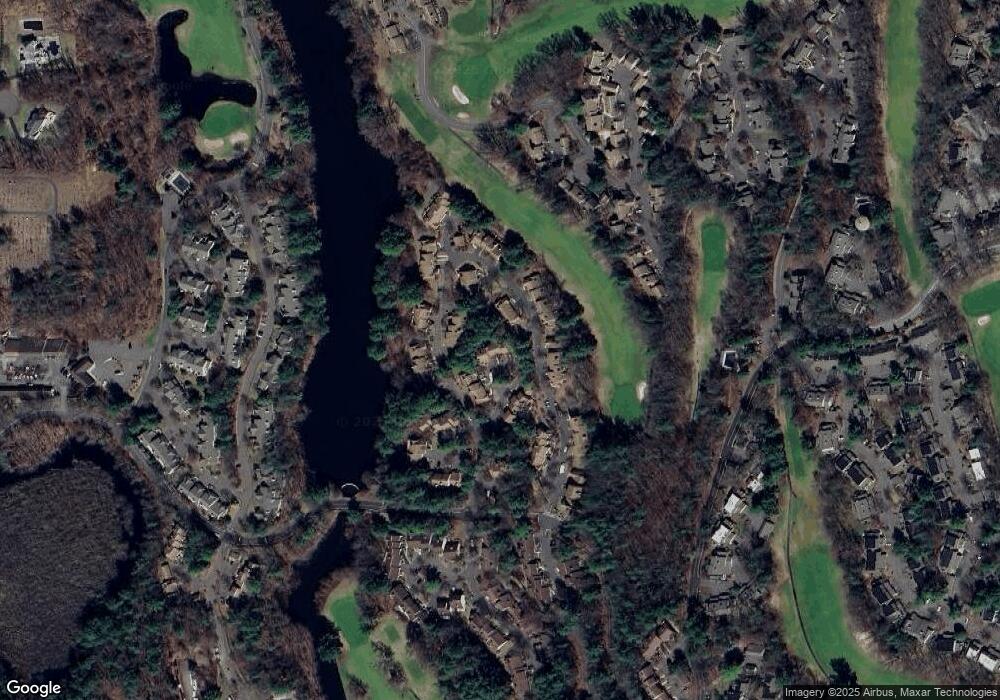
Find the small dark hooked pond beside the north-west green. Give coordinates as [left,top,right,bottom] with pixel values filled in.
[155,10,257,121]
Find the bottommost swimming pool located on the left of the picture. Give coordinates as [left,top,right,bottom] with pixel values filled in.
[169,171,190,193]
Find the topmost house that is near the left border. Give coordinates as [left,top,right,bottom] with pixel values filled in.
[13,37,60,70]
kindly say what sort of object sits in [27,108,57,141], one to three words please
house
